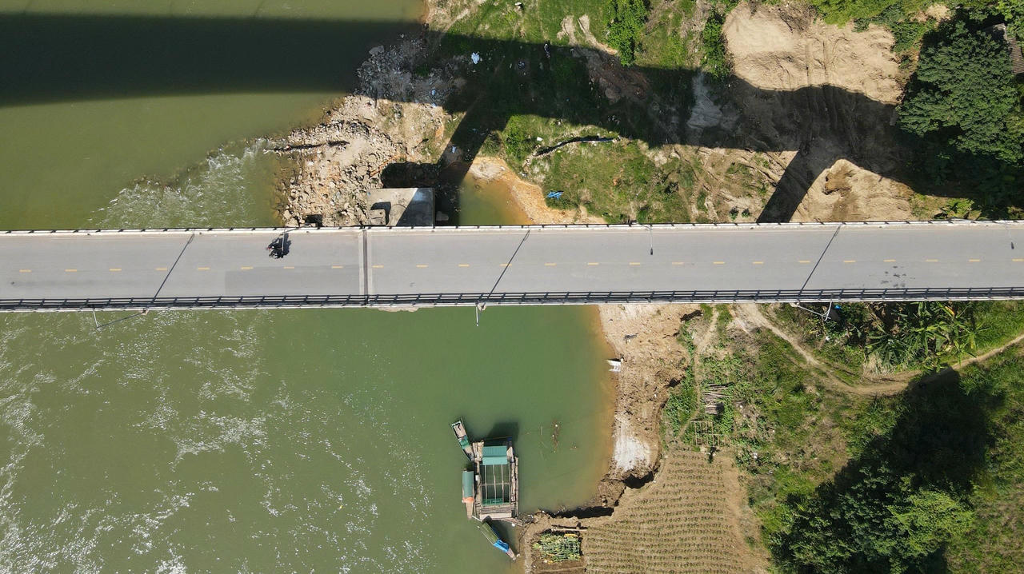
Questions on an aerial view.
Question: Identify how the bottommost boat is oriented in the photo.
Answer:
on a diagonal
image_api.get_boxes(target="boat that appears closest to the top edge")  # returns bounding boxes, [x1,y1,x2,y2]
[453,421,473,461]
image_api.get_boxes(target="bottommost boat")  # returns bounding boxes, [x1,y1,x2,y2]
[479,521,516,561]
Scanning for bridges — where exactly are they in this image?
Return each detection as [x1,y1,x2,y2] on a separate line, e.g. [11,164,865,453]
[0,188,1024,312]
